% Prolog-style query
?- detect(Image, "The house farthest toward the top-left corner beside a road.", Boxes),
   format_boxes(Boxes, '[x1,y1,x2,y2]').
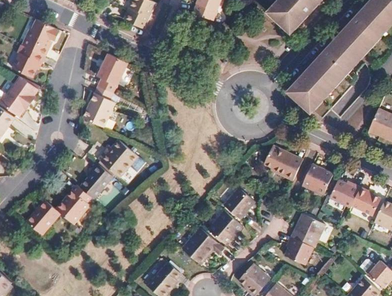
[12,18,58,78]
